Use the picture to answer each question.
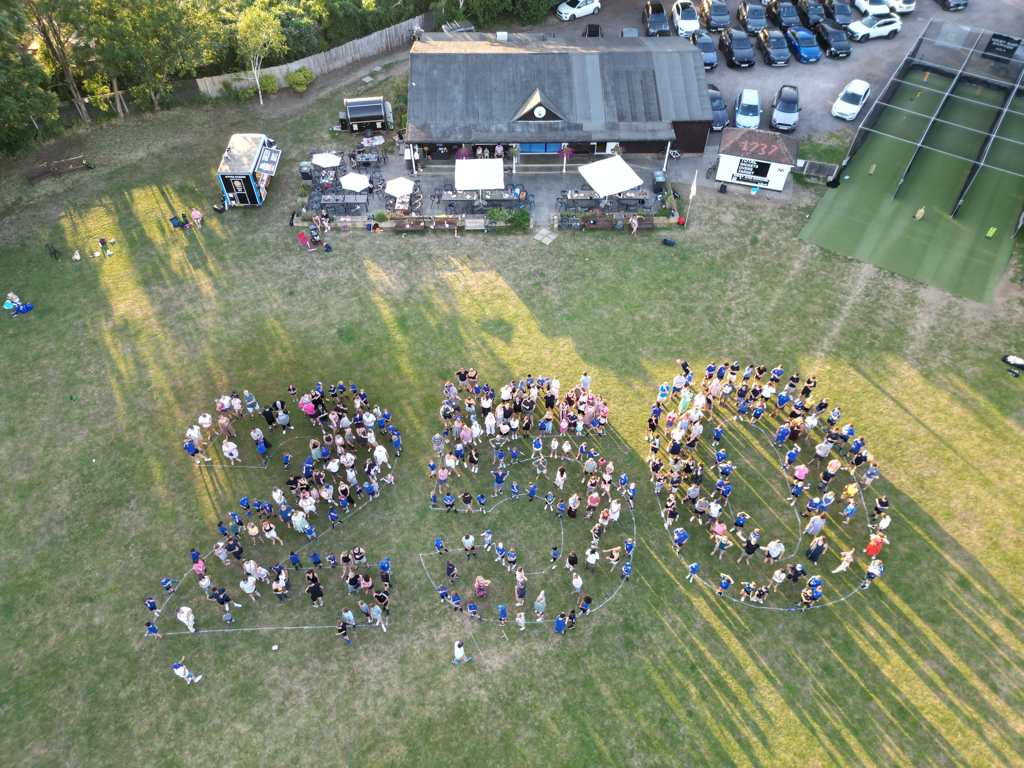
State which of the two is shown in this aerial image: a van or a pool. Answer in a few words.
van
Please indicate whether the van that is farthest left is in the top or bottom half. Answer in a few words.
top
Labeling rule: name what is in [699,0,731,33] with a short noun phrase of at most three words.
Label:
car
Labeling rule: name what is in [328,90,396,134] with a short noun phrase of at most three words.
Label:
trailer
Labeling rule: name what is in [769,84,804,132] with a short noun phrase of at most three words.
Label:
car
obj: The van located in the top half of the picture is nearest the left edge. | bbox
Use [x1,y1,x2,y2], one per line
[212,125,286,202]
